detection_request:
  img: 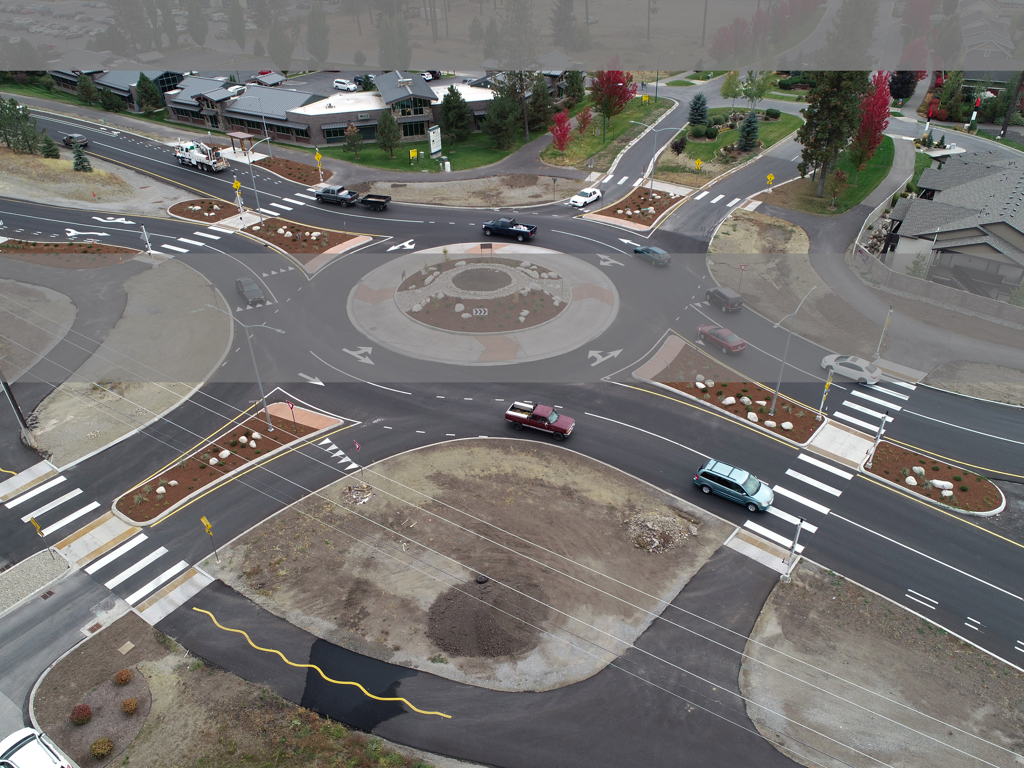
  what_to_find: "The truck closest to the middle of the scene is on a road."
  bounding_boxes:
[504,402,578,441]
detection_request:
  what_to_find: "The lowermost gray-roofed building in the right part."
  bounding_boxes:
[877,116,1024,300]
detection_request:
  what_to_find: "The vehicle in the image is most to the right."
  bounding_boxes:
[820,353,887,385]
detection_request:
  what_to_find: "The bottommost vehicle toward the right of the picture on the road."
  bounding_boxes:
[690,456,779,513]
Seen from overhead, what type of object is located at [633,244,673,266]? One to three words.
car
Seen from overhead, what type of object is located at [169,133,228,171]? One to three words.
truck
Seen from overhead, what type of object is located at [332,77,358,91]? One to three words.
car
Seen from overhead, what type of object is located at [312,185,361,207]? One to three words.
truck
